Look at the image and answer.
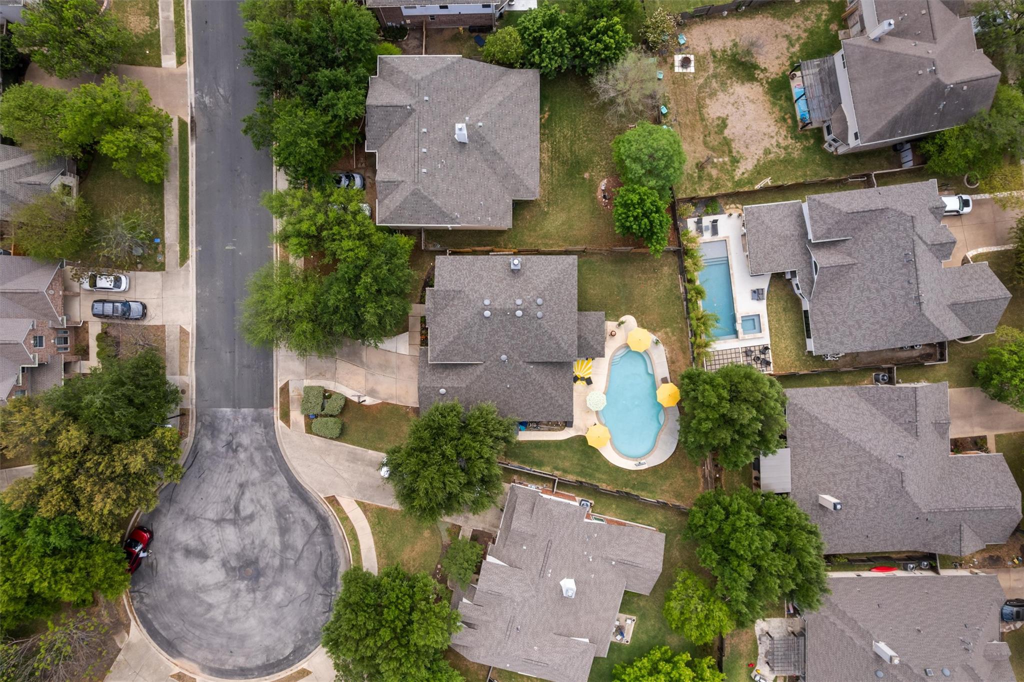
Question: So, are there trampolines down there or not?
No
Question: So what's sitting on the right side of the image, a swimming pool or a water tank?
swimming pool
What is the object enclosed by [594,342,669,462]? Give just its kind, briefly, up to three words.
swimming pool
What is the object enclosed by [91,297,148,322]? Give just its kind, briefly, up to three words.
car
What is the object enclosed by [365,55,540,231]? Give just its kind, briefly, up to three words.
house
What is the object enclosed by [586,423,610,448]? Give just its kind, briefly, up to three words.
umbrella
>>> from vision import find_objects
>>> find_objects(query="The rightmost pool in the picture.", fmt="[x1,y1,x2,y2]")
[795,87,810,124]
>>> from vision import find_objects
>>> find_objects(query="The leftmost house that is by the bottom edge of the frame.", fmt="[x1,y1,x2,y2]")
[449,482,670,682]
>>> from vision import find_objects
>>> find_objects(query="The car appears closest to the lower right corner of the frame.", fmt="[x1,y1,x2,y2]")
[997,597,1024,623]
